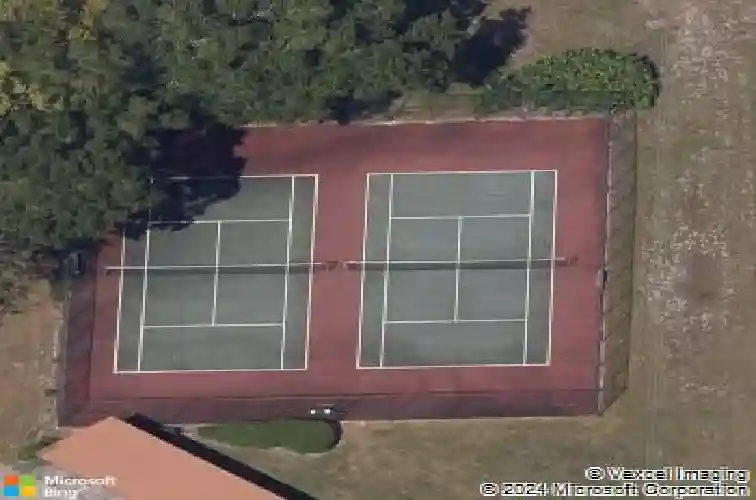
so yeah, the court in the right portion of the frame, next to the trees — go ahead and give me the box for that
[357,171,554,368]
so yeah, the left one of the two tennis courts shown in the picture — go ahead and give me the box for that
[114,175,317,371]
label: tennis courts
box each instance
[357,171,554,368]
[114,175,317,371]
